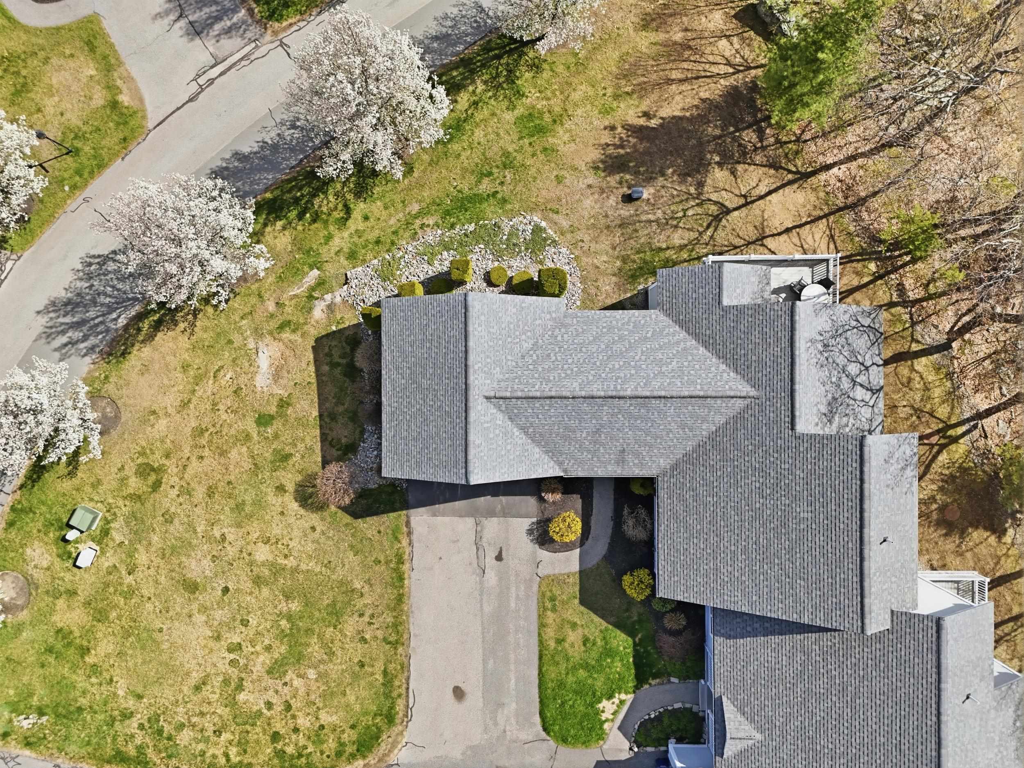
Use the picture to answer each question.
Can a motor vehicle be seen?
No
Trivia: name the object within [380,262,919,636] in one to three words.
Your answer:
house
